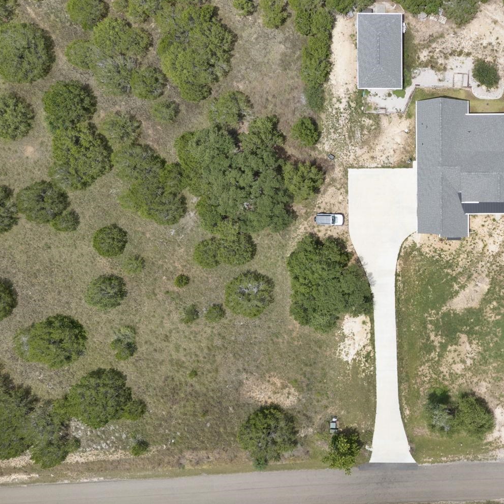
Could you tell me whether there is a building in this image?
Yes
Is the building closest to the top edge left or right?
right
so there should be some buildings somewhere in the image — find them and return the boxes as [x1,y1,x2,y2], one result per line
[357,12,403,90]
[415,98,504,240]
